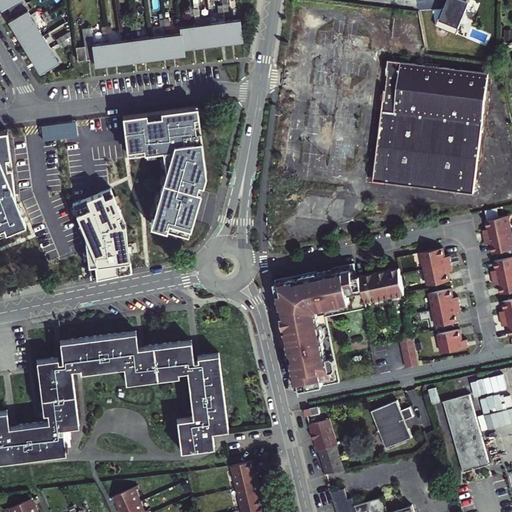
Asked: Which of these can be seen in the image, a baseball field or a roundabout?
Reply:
roundabout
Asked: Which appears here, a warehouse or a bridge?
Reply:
warehouse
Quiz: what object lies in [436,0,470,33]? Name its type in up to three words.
house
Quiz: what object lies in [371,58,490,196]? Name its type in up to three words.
warehouse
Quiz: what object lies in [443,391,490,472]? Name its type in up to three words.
shed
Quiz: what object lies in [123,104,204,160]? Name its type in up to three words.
building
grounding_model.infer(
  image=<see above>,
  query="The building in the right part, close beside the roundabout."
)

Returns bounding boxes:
[276,270,347,390]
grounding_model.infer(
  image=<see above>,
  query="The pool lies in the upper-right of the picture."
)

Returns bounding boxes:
[466,26,491,46]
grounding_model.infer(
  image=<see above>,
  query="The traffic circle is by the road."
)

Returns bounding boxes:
[196,238,257,297]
